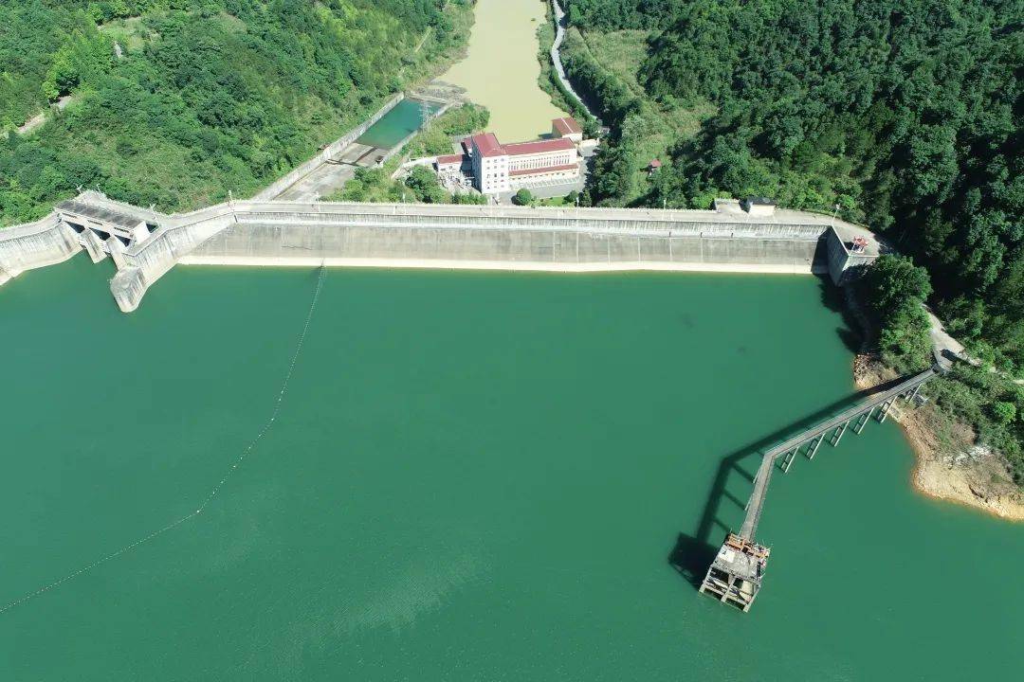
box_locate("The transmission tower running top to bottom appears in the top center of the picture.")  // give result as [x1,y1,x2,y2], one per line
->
[414,94,429,133]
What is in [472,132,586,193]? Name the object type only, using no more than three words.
building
